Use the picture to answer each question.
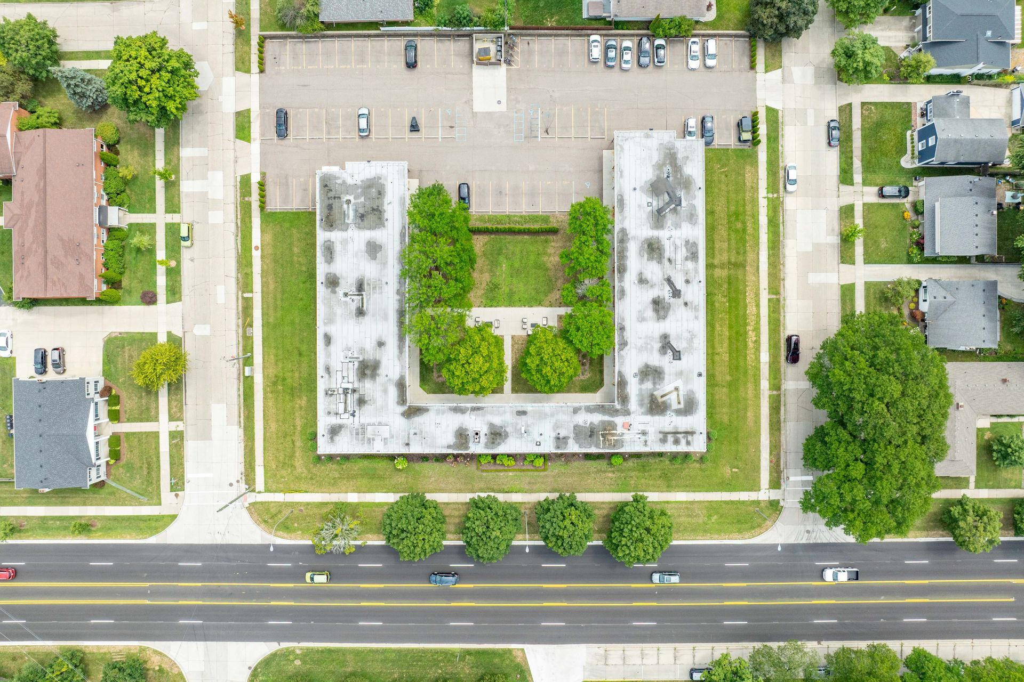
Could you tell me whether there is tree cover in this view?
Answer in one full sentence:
Yes, tree cover can be seen from above here.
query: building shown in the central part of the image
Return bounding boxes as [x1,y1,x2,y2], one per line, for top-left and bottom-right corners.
[317,127,706,454]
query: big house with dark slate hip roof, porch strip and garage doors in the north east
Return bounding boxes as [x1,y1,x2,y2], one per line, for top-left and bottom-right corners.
[909,0,1017,75]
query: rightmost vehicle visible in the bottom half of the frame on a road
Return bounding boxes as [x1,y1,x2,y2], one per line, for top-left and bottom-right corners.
[822,567,860,582]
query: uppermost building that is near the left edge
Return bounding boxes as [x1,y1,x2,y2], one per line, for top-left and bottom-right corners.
[0,102,137,300]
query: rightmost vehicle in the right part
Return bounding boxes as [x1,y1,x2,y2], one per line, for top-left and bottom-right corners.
[877,184,908,199]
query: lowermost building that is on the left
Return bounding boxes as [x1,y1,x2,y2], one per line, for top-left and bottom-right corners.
[13,376,112,492]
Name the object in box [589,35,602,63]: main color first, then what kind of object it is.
white vehicle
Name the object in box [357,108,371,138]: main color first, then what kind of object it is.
white car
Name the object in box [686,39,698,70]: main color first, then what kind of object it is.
white vehicle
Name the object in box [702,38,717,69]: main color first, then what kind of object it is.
white car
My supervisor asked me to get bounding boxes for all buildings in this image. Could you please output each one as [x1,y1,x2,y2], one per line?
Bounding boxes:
[917,279,998,350]
[915,175,997,256]
[611,0,706,25]
[930,362,1024,477]
[318,0,414,26]
[1011,81,1024,127]
[317,127,706,454]
[13,376,112,492]
[0,102,137,300]
[909,0,1017,75]
[916,87,1008,165]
